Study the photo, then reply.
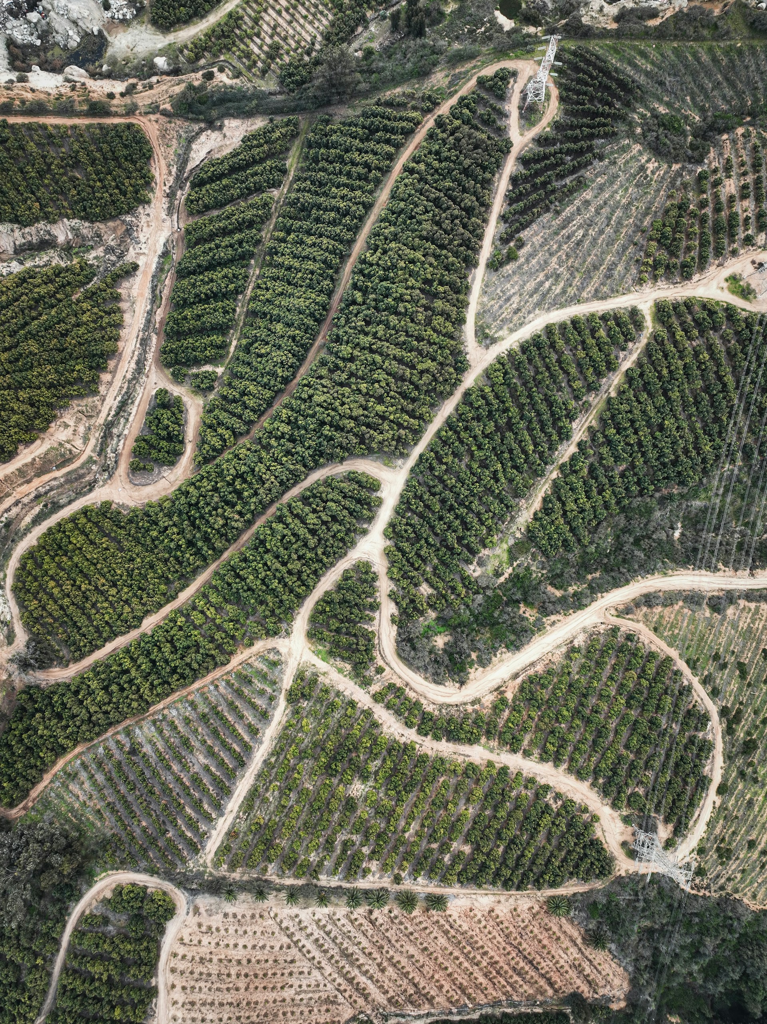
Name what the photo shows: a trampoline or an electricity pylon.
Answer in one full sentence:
Visible in the photo is an electricity pylon.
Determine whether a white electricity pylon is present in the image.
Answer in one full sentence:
Yes, a white electricity pylon appears in the view.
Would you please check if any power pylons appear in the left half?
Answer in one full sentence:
No, no power pylon appears in the left half.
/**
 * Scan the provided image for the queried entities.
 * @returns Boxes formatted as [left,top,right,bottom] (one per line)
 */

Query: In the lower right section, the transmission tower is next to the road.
[625,824,699,892]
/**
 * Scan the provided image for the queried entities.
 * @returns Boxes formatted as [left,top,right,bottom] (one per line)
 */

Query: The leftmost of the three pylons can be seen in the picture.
[521,23,567,114]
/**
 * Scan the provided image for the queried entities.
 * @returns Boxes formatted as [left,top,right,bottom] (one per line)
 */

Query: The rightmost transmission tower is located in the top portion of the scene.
[747,259,767,290]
